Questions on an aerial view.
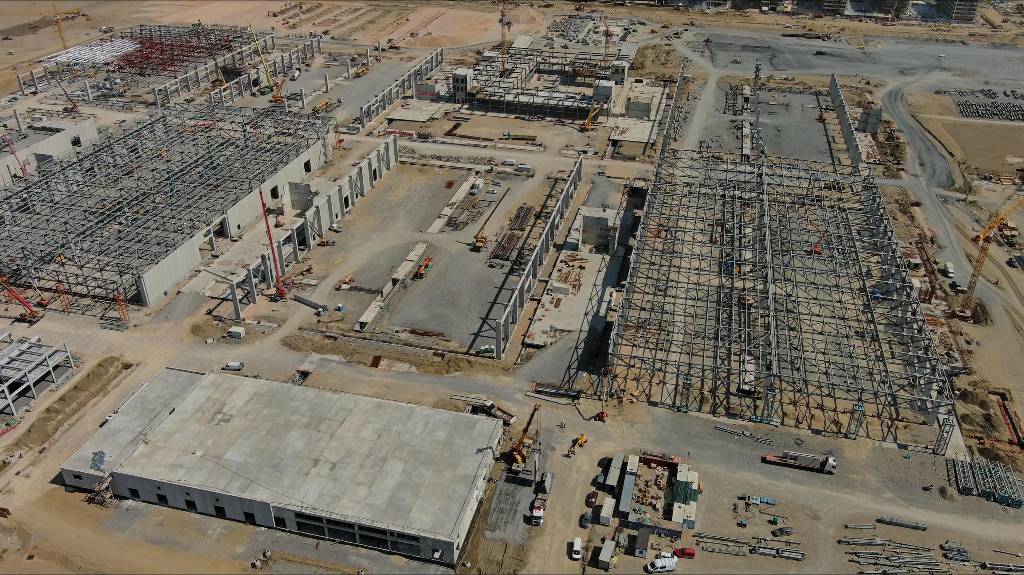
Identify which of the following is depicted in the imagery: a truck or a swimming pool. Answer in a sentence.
Looking from above, you can make out a truck.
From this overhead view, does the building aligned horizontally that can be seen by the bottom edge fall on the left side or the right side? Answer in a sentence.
You can find the building aligned horizontally that can be seen by the bottom edge on the left side of the picture.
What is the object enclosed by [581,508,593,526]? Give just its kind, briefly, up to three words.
vehicle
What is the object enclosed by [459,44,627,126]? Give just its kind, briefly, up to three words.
building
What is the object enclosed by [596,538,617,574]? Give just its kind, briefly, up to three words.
building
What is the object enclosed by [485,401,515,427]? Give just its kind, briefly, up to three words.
truck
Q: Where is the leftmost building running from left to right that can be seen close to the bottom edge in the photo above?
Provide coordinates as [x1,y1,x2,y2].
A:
[62,365,503,564]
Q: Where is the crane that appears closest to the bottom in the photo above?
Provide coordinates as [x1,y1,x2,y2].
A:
[502,406,542,480]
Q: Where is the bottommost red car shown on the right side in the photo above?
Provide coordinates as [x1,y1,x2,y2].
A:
[674,548,698,561]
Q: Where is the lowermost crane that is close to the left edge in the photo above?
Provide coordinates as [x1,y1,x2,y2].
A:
[0,274,46,326]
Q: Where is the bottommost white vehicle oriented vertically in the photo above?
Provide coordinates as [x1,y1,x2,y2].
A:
[570,534,582,560]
